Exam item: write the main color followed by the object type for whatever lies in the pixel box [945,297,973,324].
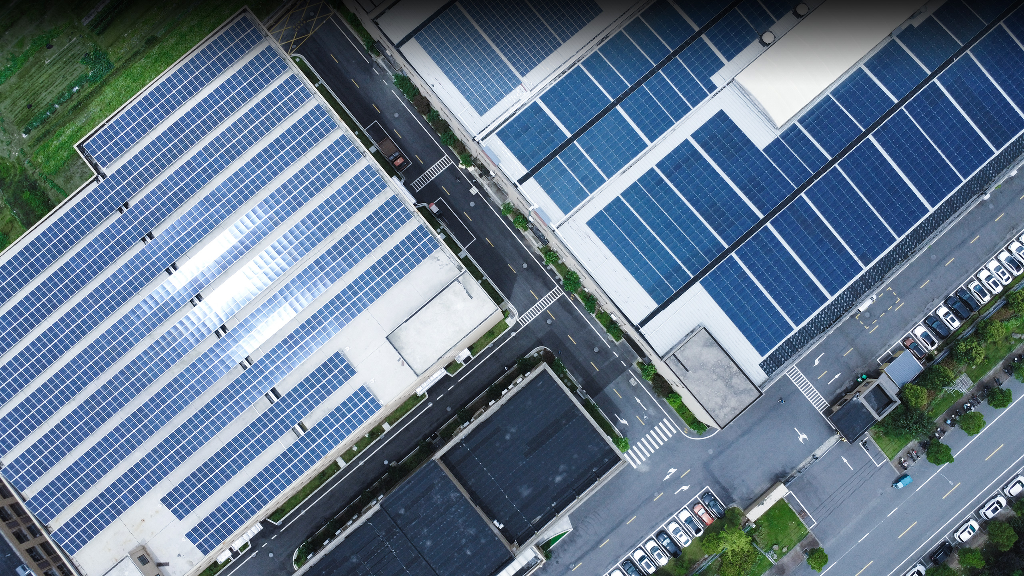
black car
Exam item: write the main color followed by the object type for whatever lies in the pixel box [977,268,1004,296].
white car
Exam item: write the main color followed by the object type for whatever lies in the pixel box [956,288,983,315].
black car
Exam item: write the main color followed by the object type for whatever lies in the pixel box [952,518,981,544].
white car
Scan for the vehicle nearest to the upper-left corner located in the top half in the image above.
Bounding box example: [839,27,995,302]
[376,136,411,174]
